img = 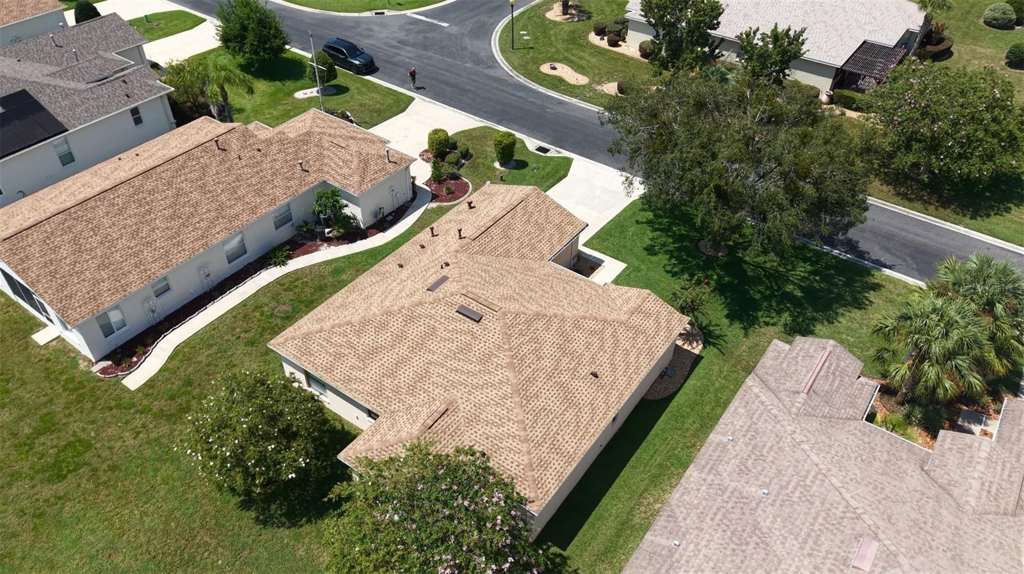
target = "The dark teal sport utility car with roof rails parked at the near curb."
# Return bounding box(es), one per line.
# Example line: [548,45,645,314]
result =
[323,37,378,72]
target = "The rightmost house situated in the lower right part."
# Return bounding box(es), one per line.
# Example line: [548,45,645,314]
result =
[622,336,1024,574]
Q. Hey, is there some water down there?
No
